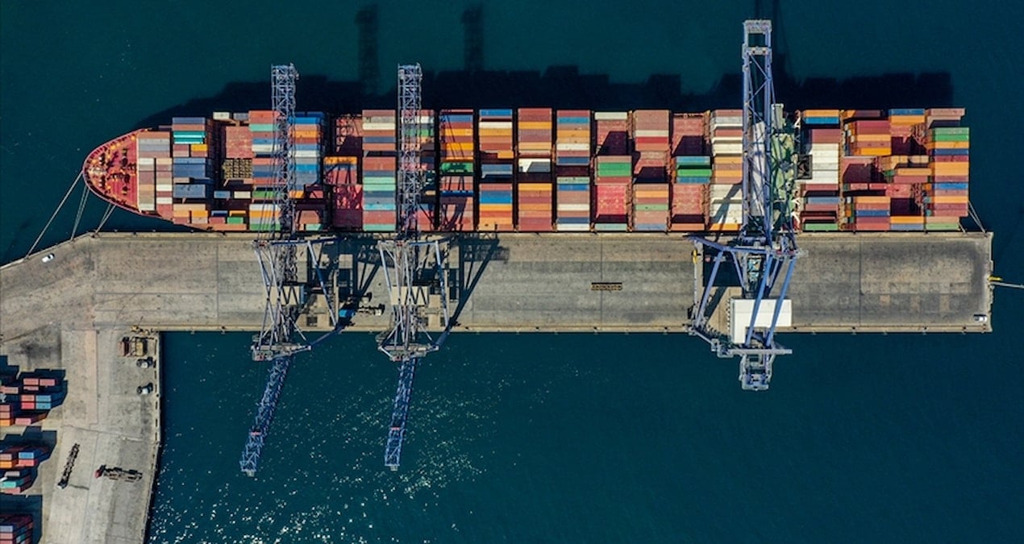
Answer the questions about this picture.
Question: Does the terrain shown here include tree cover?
No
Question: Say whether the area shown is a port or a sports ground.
port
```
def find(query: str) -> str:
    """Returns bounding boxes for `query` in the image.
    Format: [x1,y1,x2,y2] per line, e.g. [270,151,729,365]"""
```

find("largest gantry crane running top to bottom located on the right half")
[682,17,810,392]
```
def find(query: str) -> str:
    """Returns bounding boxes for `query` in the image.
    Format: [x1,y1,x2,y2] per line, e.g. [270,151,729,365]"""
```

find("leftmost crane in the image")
[236,58,348,479]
